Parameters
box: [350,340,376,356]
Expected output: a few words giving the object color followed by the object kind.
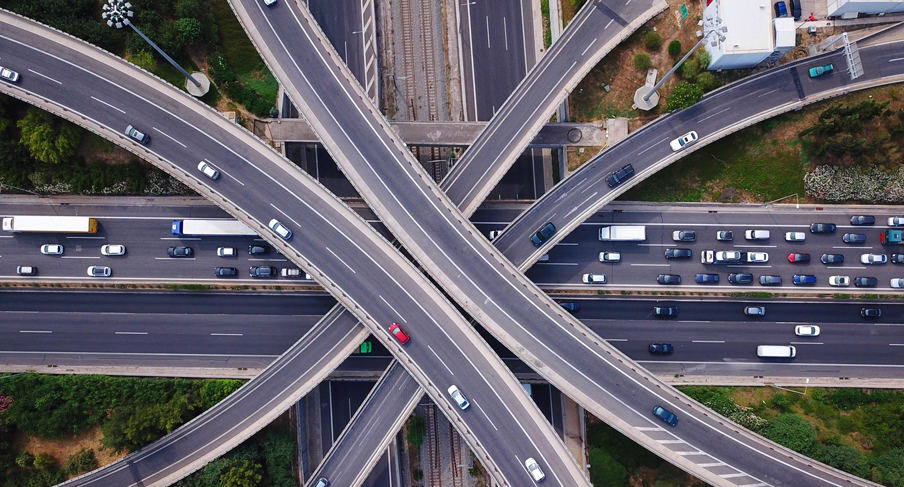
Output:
green vehicle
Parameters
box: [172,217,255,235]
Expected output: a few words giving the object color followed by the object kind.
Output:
white vehicle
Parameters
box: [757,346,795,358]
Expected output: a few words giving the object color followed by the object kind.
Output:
white vehicle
